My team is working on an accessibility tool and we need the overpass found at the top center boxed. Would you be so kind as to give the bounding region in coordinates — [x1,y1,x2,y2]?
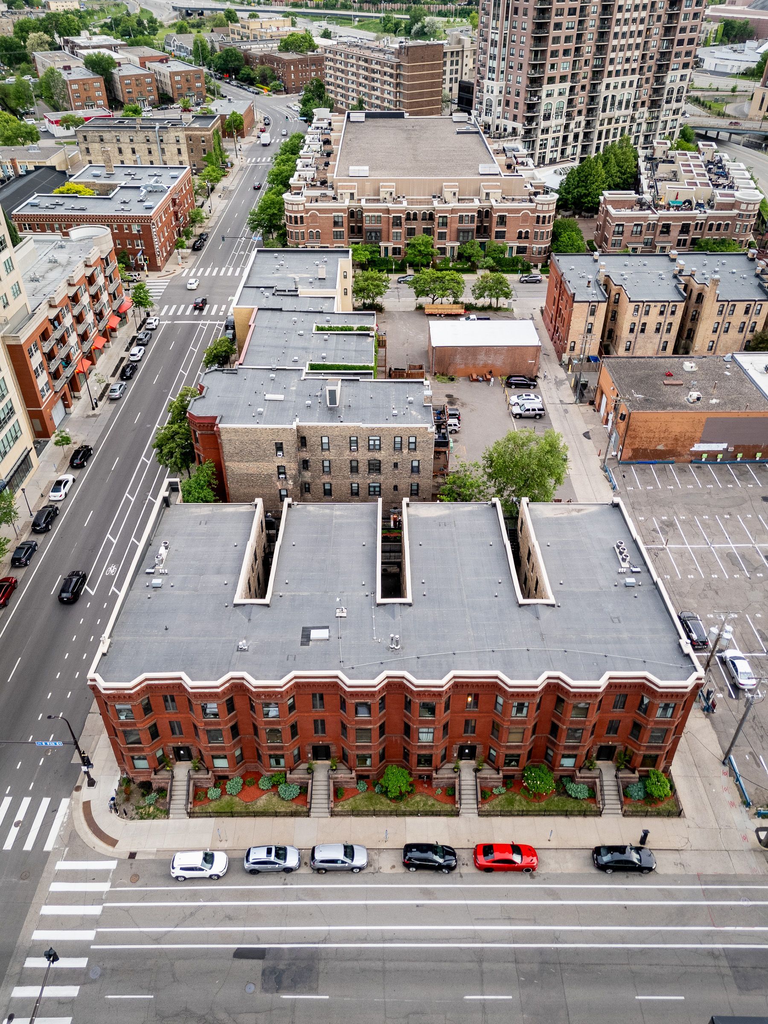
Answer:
[172,0,452,26]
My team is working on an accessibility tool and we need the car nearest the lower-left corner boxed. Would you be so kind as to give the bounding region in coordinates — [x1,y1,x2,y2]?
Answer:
[169,847,233,881]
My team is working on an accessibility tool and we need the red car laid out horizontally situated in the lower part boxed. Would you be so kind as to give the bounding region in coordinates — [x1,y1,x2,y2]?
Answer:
[470,844,538,877]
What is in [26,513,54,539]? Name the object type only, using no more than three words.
car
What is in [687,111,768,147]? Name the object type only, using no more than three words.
bridge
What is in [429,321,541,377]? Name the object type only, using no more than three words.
building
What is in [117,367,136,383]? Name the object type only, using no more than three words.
car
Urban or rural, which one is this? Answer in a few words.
urban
